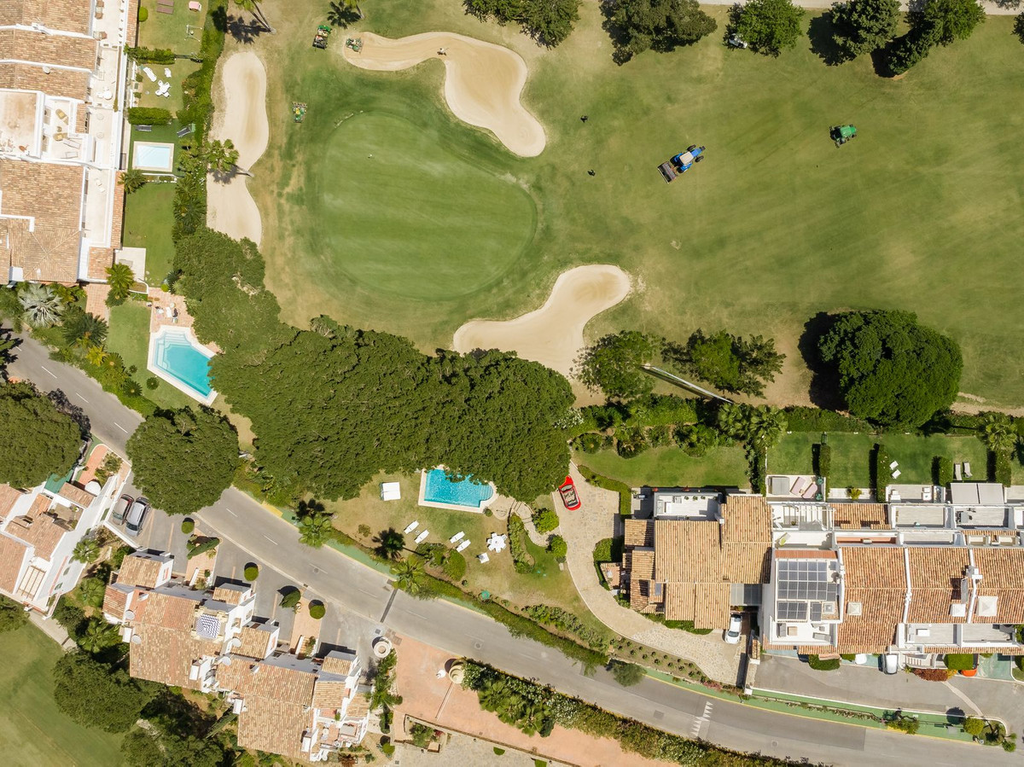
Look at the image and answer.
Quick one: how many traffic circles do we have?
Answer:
zero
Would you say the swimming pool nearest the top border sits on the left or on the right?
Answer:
left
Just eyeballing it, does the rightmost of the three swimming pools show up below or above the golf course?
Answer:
below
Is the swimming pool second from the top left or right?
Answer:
left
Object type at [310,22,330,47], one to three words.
vehicle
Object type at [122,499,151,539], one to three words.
car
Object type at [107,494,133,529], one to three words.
car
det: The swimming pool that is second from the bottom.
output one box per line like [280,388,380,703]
[147,325,226,407]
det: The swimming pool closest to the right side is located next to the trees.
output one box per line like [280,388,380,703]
[418,466,499,513]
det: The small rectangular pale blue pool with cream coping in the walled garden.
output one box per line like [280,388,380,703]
[132,141,174,172]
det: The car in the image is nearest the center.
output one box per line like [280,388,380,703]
[558,475,582,514]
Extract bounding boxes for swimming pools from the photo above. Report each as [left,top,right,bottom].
[418,466,499,513]
[147,325,226,407]
[132,141,174,172]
